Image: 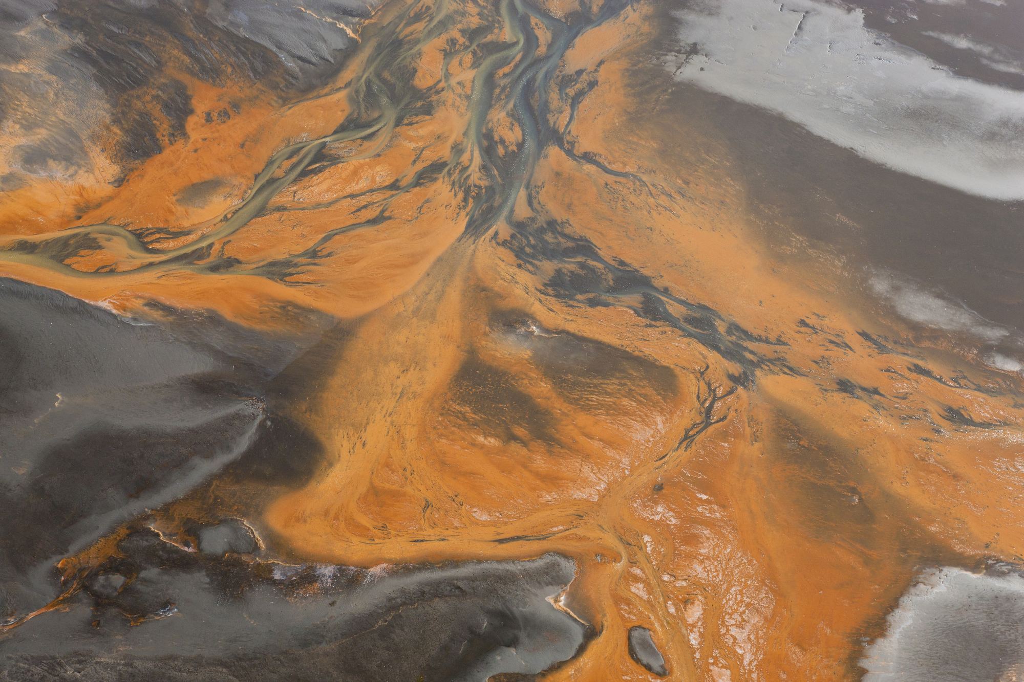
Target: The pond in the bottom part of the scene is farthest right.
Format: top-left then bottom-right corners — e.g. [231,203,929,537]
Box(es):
[198,518,262,555]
